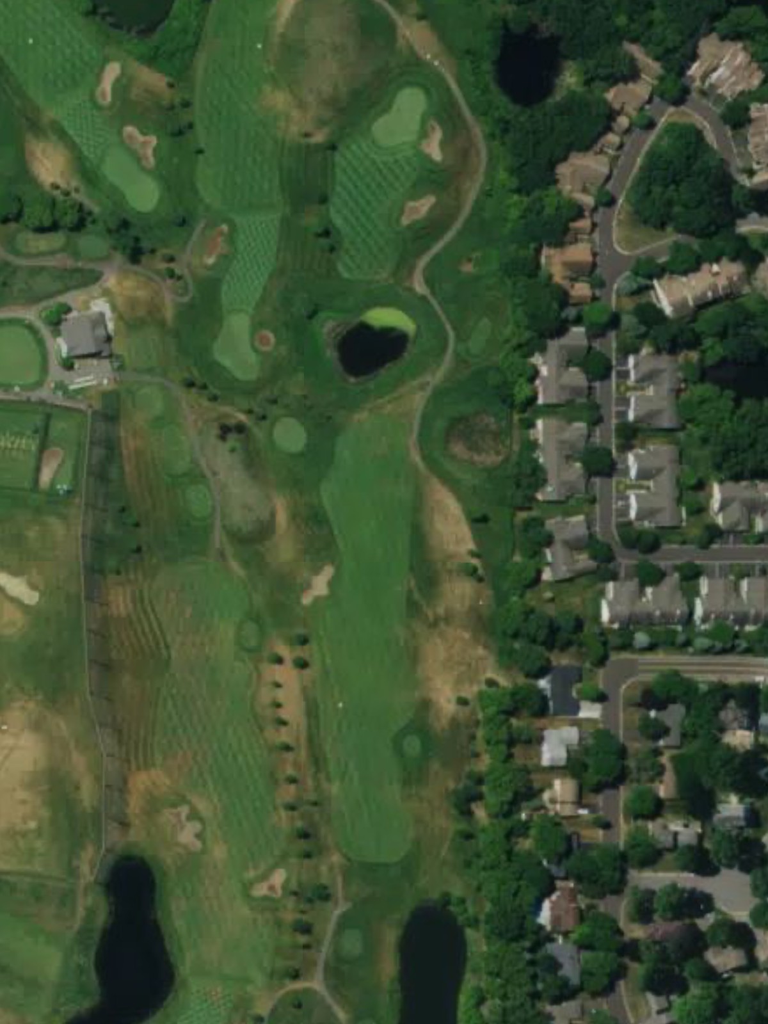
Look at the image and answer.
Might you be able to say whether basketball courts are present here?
No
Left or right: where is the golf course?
left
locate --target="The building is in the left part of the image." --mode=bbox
[58,300,114,357]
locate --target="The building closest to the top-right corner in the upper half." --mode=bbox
[682,29,768,97]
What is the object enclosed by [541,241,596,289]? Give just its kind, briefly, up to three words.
house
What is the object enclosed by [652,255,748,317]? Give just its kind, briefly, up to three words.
house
